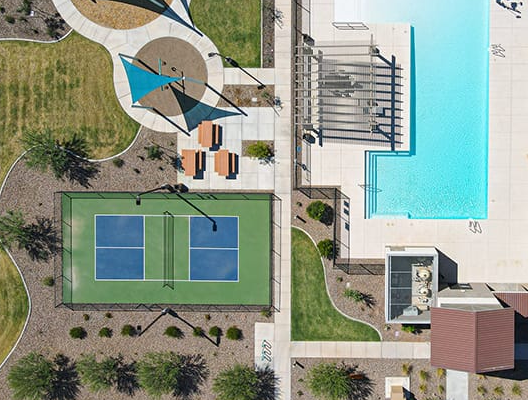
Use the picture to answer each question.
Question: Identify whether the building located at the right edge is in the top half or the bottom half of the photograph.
bottom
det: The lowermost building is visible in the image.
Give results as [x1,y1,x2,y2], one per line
[425,278,528,373]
